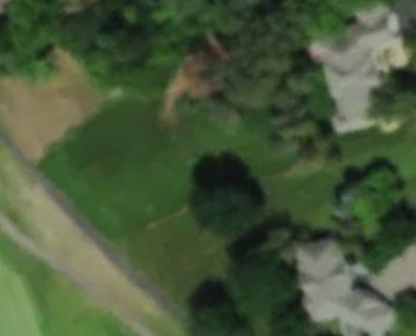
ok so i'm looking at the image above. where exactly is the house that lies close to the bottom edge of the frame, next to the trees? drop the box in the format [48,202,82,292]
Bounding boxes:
[294,227,401,336]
